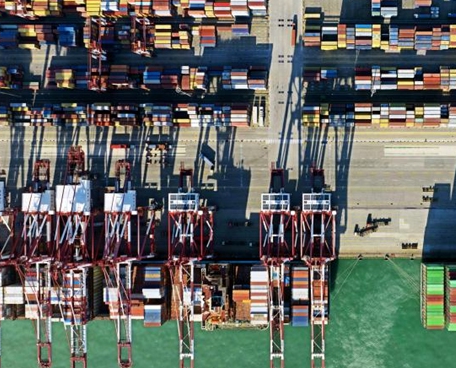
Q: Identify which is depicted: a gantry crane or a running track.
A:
gantry crane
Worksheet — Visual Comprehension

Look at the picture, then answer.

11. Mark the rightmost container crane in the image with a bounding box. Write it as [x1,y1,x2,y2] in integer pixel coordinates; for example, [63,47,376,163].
[299,160,345,368]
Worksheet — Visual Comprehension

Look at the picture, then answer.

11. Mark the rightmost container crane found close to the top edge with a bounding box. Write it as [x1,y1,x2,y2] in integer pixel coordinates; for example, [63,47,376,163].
[131,16,159,60]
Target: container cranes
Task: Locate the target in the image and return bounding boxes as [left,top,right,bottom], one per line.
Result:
[258,160,304,368]
[87,16,117,60]
[164,160,228,368]
[97,163,169,367]
[48,147,126,368]
[83,91,113,132]
[0,180,52,263]
[131,16,159,60]
[9,163,96,367]
[299,160,345,368]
